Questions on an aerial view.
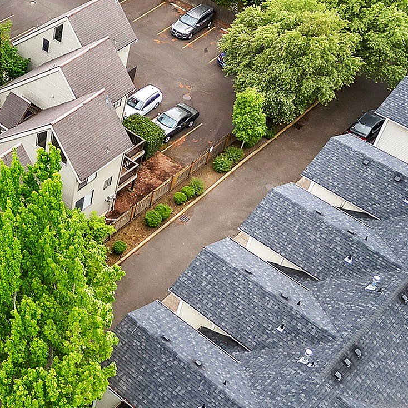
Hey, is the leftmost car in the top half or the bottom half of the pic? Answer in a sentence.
The leftmost car is in the top half of the image.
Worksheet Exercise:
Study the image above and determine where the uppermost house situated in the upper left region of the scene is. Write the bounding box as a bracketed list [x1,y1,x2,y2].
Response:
[10,0,140,79]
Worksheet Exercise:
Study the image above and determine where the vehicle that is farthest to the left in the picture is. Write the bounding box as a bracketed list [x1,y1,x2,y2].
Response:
[129,80,171,120]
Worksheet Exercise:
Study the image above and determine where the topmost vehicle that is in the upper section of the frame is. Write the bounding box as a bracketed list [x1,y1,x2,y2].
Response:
[169,2,215,38]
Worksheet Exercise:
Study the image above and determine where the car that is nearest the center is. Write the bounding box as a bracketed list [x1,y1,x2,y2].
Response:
[152,101,205,143]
